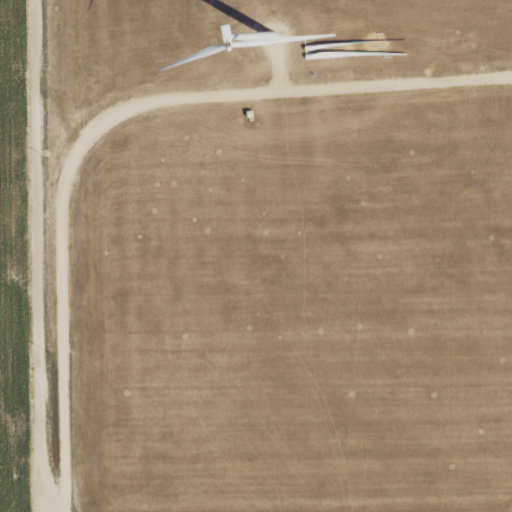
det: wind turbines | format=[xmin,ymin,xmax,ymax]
[162,24,336,70]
